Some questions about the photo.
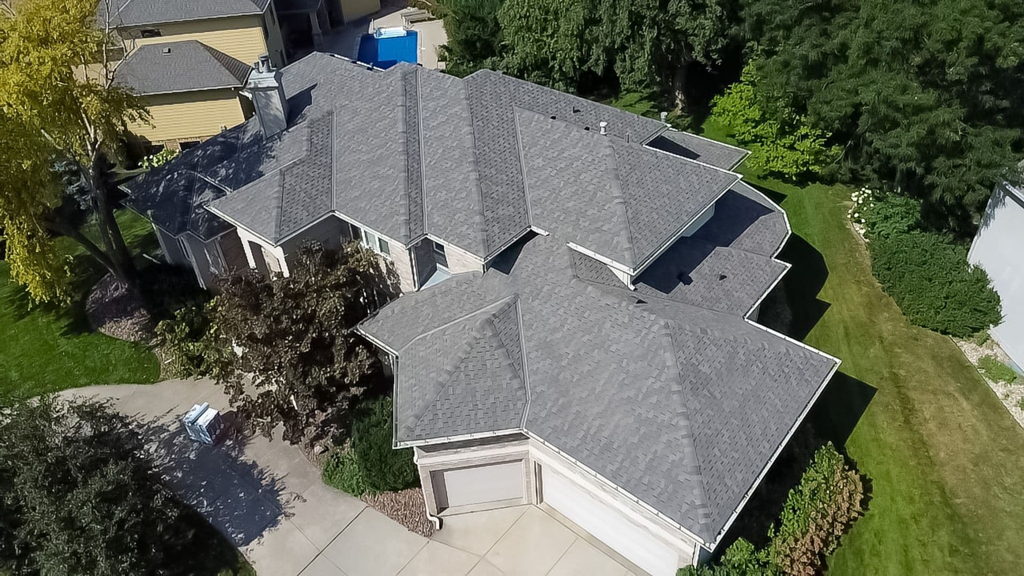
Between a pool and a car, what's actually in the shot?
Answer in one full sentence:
This aerial view contains a pool.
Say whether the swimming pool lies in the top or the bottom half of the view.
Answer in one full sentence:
The swimming pool is in the top half of the image.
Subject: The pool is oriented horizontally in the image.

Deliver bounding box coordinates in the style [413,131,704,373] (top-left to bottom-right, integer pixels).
[348,26,425,64]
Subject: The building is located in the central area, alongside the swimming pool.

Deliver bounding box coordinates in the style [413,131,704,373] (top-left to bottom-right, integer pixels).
[120,49,840,576]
